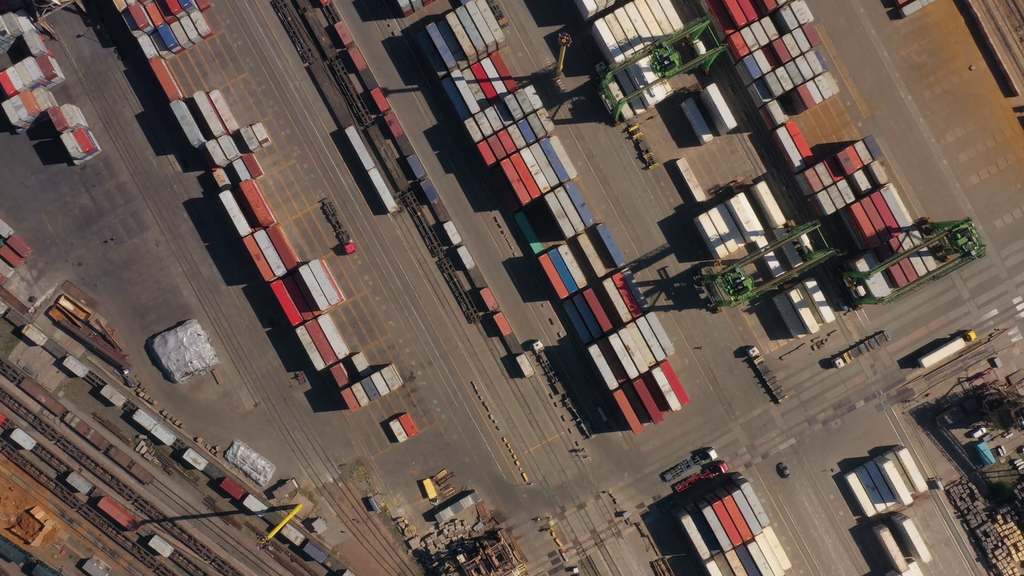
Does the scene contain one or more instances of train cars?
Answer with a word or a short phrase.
Yes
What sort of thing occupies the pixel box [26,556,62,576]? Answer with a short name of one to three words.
rail car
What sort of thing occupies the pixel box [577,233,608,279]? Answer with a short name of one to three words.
shipping container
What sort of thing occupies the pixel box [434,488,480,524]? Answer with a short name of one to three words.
shed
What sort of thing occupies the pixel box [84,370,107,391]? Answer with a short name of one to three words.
rail car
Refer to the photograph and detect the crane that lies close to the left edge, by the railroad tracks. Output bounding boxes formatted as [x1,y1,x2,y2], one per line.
[33,0,88,44]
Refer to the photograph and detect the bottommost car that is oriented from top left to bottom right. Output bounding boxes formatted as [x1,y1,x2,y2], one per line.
[777,462,792,479]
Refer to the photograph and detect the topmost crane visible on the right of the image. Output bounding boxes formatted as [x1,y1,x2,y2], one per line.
[594,14,724,125]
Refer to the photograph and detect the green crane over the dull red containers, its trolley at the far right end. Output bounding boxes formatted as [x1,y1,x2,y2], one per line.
[838,216,996,313]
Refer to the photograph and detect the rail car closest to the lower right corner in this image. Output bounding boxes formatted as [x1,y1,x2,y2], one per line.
[494,310,537,378]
